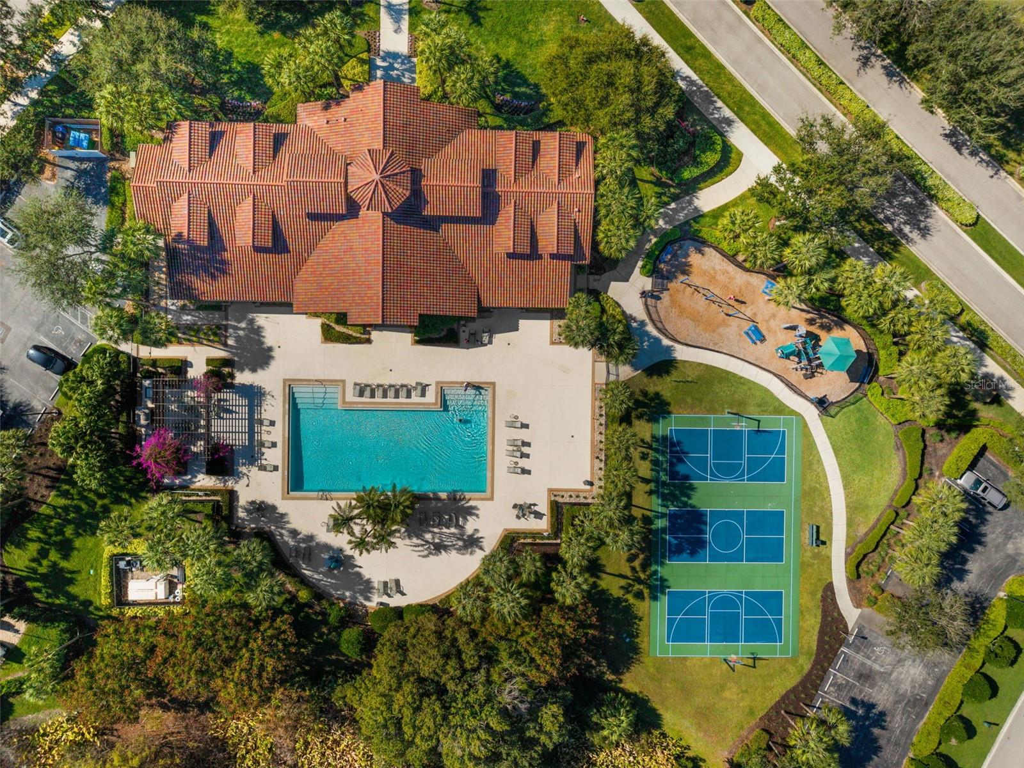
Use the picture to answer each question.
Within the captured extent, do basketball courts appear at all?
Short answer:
Yes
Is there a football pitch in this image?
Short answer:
No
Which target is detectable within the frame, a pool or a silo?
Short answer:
pool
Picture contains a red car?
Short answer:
No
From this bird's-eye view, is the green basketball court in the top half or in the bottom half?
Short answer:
bottom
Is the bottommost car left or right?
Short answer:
right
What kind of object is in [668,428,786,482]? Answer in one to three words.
sports court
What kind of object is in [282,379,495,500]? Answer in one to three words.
swimming pool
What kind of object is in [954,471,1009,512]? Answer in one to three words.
car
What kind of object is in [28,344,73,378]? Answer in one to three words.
car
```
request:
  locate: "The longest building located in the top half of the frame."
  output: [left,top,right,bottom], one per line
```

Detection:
[130,81,593,326]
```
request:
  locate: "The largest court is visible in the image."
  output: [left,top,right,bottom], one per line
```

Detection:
[650,415,803,657]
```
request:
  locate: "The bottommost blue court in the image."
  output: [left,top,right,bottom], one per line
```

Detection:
[666,590,784,644]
